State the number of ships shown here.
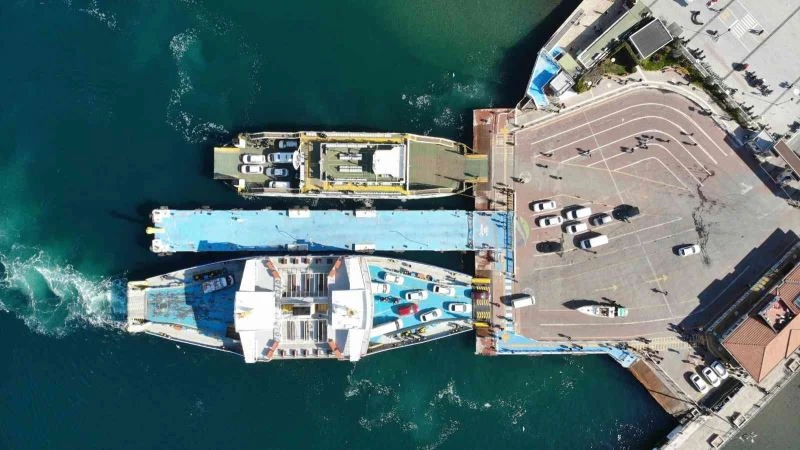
3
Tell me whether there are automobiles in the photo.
Yes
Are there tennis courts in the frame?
No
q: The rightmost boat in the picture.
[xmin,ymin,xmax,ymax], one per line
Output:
[577,305,628,318]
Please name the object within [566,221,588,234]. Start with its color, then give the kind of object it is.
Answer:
white vehicle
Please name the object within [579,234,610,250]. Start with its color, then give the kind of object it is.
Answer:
white vehicle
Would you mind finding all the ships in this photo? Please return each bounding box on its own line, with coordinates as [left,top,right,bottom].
[214,131,488,199]
[128,254,492,363]
[145,205,498,255]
